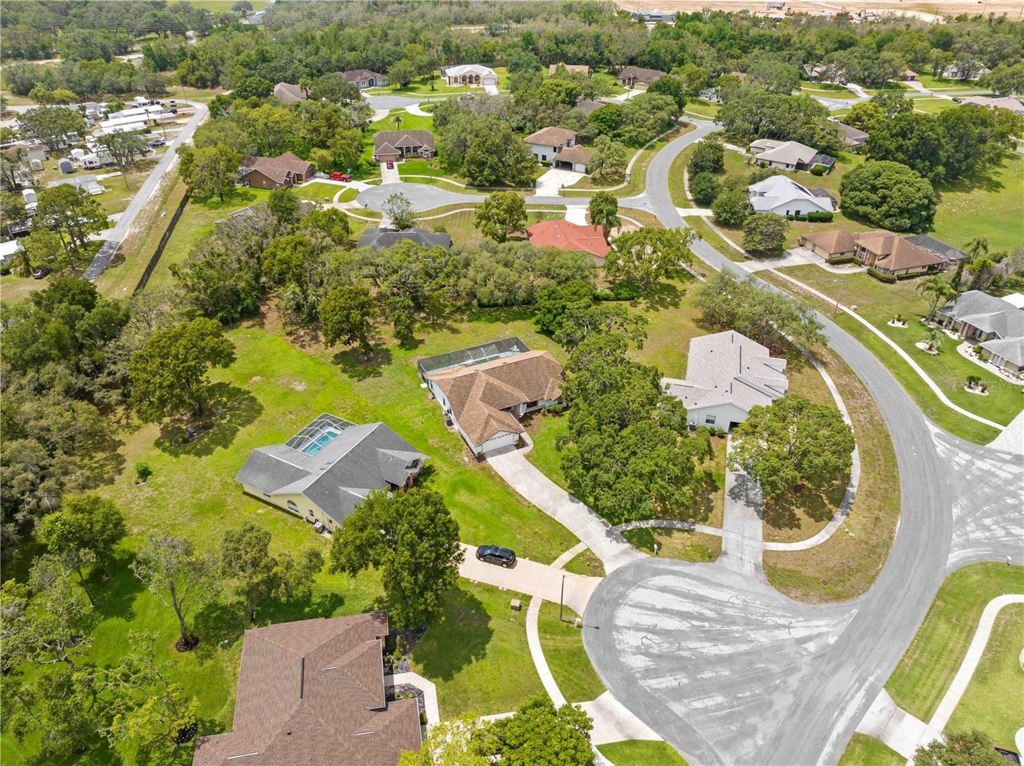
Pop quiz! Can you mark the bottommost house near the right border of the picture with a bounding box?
[936,292,1024,379]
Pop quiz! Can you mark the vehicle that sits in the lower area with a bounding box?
[473,542,519,568]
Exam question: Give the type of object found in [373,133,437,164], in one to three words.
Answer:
house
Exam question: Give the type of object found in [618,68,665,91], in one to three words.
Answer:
house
